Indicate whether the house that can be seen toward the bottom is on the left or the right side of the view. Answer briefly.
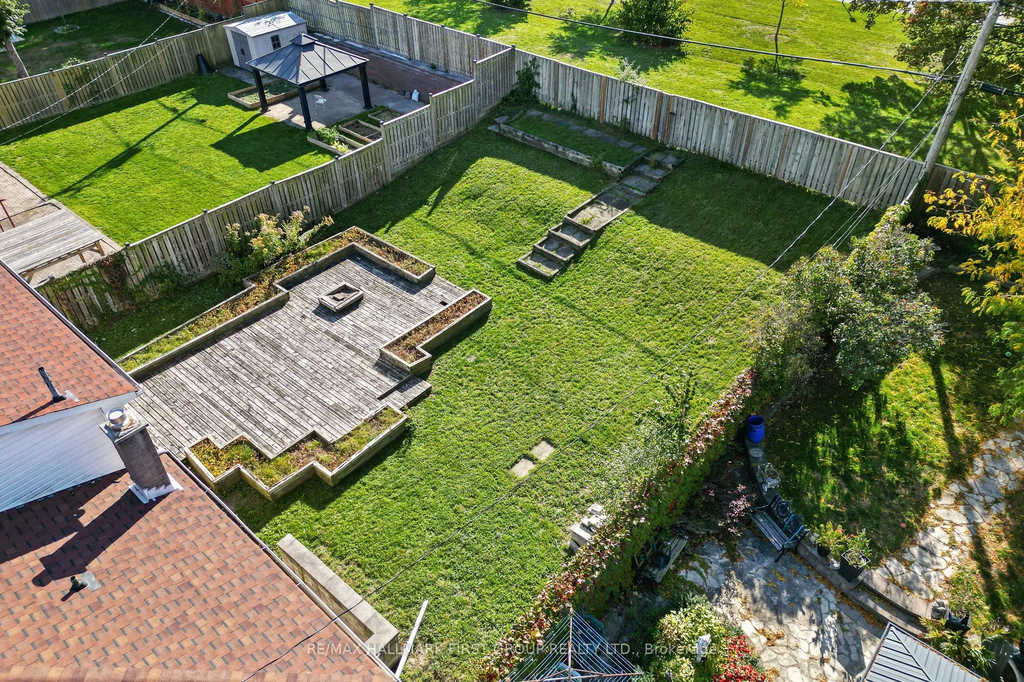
left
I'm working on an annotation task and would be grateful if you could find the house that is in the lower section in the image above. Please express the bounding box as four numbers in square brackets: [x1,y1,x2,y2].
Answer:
[0,251,411,682]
